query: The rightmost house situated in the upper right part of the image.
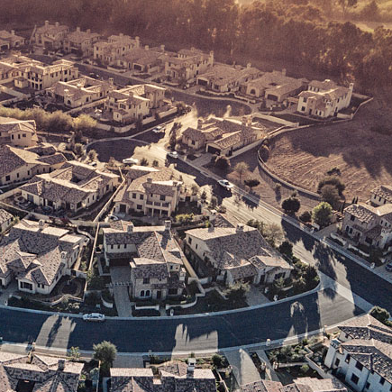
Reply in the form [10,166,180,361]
[291,79,359,117]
